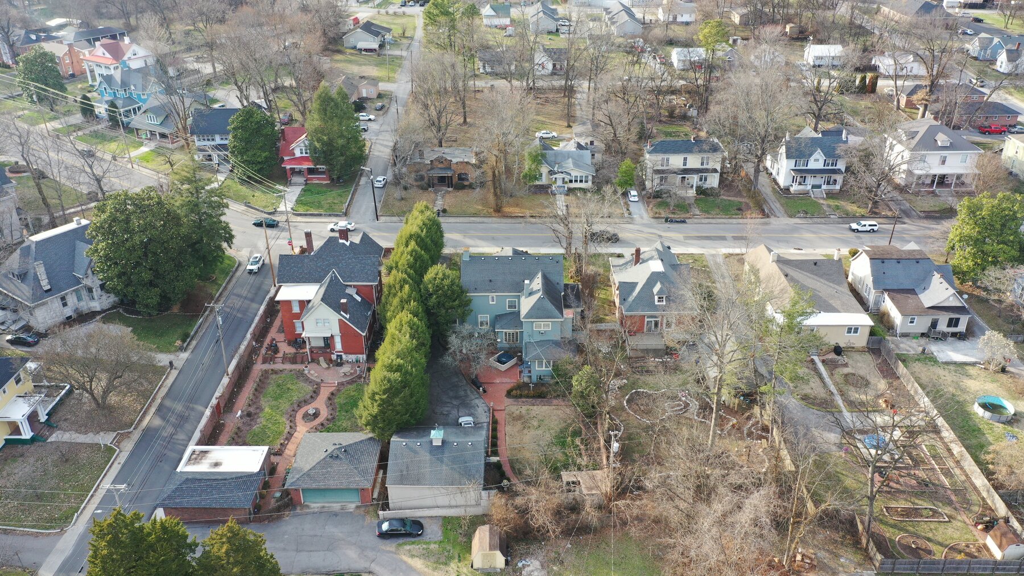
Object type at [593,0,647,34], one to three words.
house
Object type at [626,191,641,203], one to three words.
vehicle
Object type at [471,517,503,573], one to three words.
shed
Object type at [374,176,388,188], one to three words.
vehicle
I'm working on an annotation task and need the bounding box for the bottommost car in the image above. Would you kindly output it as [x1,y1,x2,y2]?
[372,518,423,540]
